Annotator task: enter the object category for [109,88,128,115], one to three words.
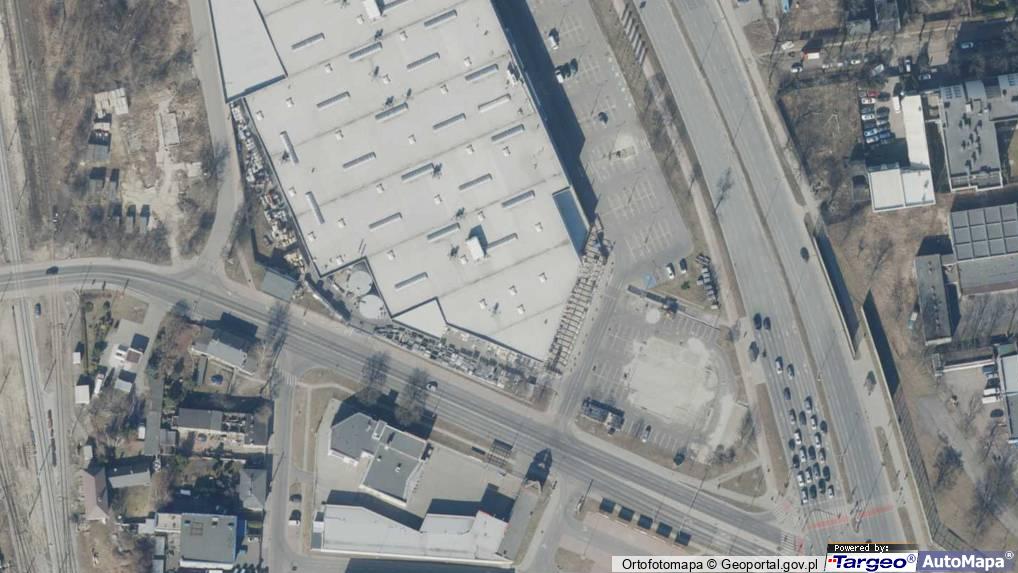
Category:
shed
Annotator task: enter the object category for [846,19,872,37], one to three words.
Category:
house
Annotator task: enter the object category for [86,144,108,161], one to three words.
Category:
shed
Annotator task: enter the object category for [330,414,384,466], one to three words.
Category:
building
